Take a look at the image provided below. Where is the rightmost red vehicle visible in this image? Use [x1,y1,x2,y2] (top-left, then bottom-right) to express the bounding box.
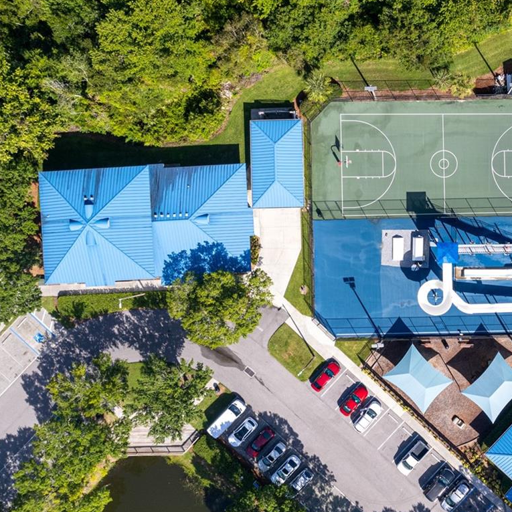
[340,386,369,417]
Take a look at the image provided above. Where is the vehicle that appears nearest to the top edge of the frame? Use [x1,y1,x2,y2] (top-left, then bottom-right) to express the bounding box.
[311,362,341,393]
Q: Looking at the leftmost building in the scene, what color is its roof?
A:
blue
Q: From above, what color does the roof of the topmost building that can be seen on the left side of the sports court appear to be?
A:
blue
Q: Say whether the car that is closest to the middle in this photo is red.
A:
Yes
